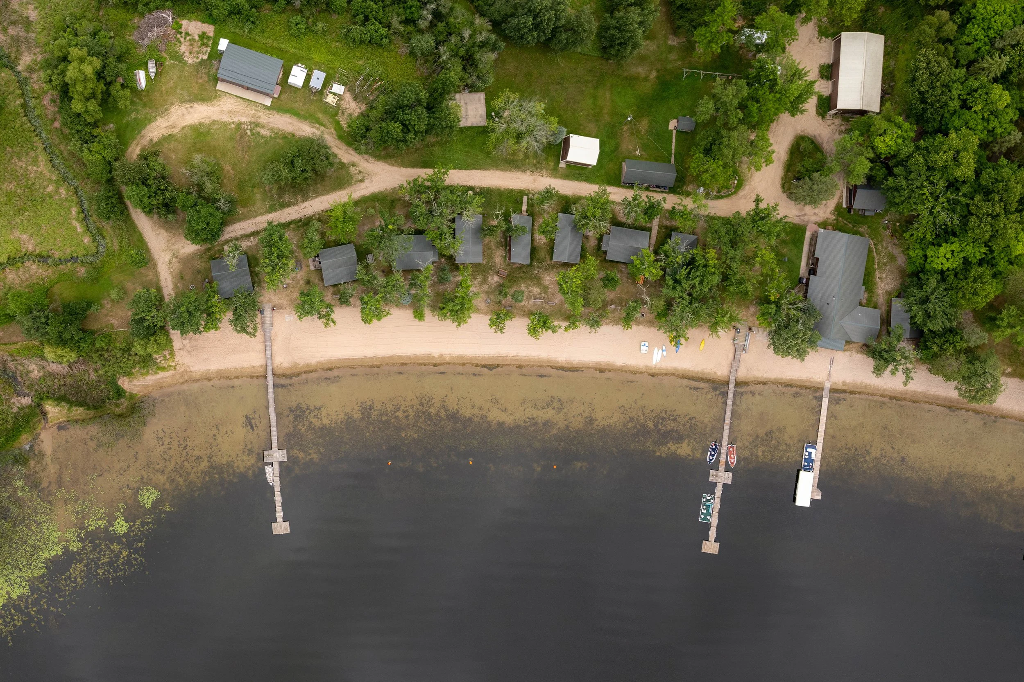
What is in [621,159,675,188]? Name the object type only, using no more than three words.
building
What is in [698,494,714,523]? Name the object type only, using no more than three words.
boat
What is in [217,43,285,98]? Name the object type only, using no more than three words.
building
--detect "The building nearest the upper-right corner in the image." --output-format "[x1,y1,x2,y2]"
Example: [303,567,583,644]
[829,29,884,121]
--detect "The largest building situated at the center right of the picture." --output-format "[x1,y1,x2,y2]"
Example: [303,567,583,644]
[804,230,881,351]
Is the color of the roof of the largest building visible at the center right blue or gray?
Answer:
gray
